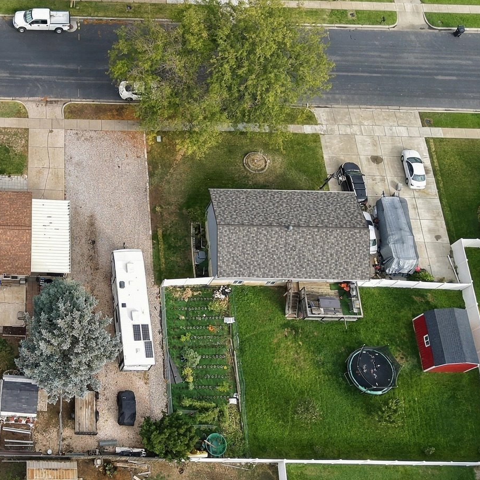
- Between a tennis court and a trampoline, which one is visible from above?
trampoline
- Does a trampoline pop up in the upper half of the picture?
No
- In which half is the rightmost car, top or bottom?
top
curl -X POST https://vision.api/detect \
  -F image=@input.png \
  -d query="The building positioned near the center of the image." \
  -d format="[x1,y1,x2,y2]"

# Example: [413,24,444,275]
[204,188,372,287]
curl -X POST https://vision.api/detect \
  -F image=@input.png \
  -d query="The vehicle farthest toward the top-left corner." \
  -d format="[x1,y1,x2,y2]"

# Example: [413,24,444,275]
[15,9,71,36]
